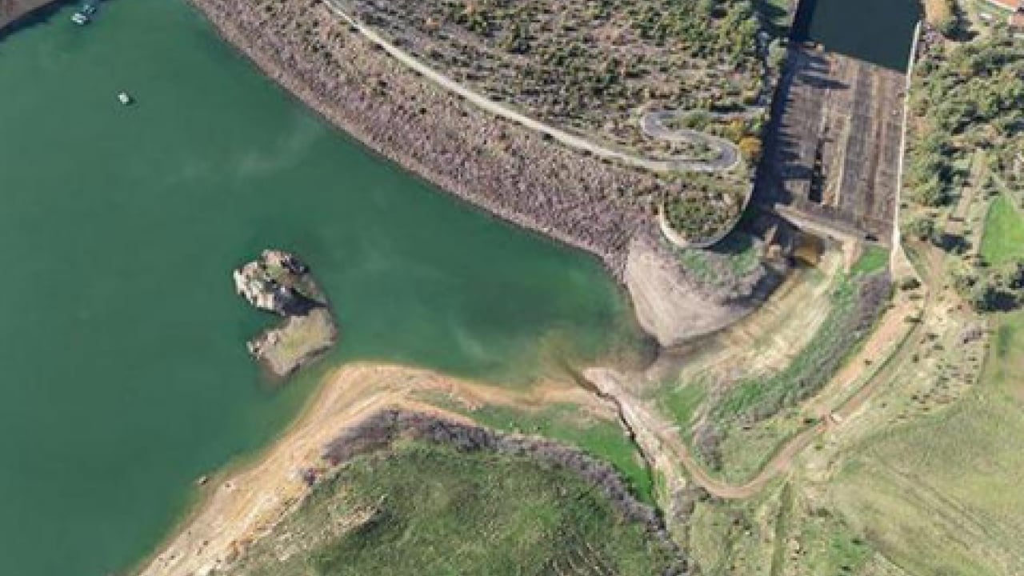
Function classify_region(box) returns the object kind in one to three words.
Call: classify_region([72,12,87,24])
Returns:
boat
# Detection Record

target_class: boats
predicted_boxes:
[118,92,128,103]
[72,12,87,24]
[82,4,92,14]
